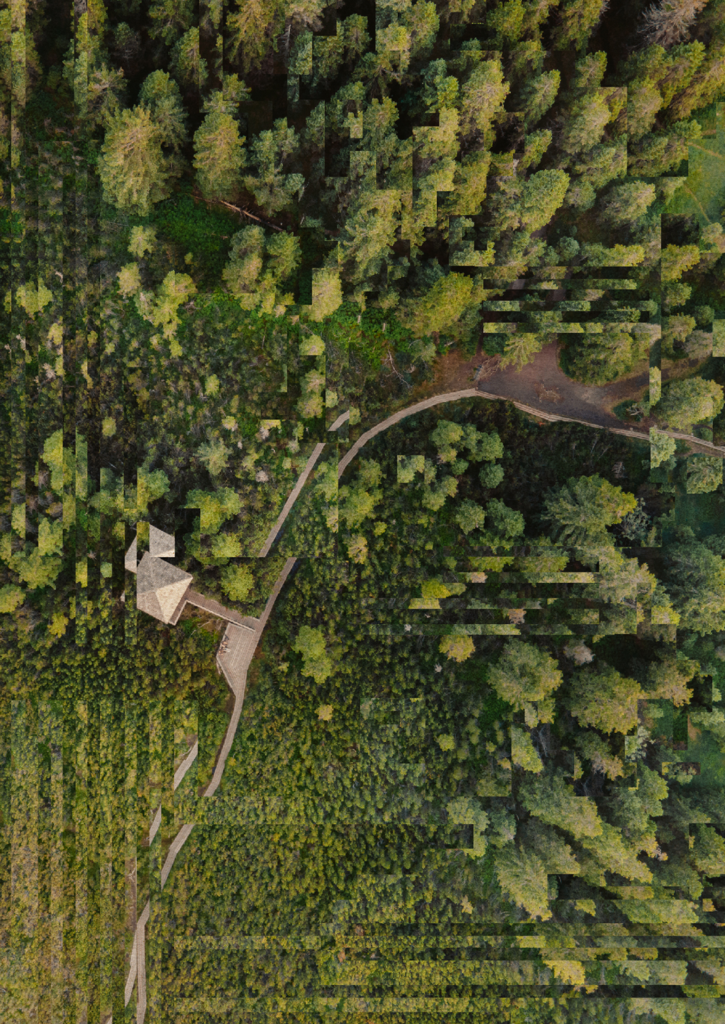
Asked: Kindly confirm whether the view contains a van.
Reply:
No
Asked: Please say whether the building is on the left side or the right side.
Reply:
left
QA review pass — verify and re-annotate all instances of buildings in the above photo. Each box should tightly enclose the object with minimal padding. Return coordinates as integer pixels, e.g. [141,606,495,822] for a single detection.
[123,551,199,627]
